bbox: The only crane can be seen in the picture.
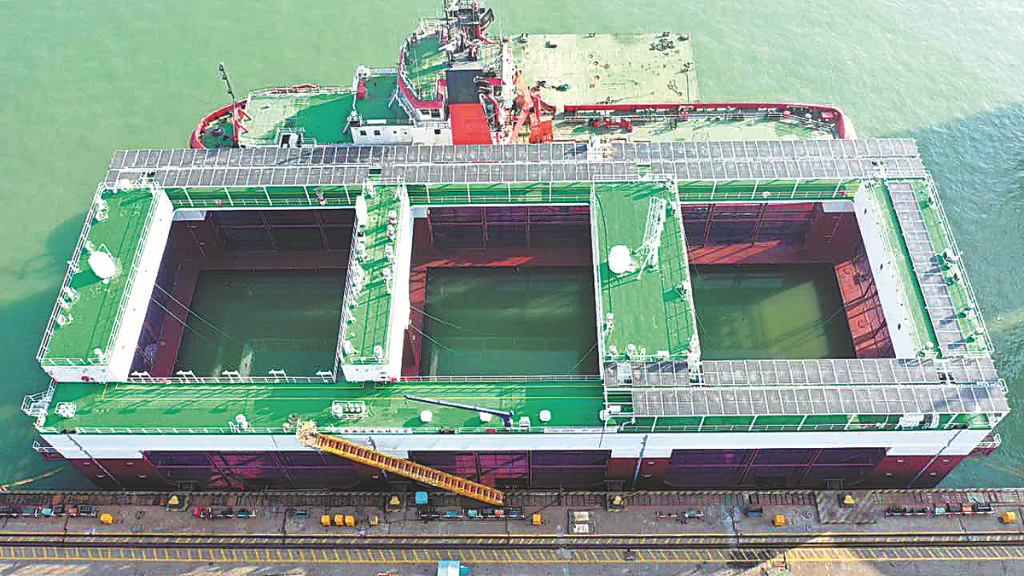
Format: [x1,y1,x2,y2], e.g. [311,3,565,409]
[406,394,518,431]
